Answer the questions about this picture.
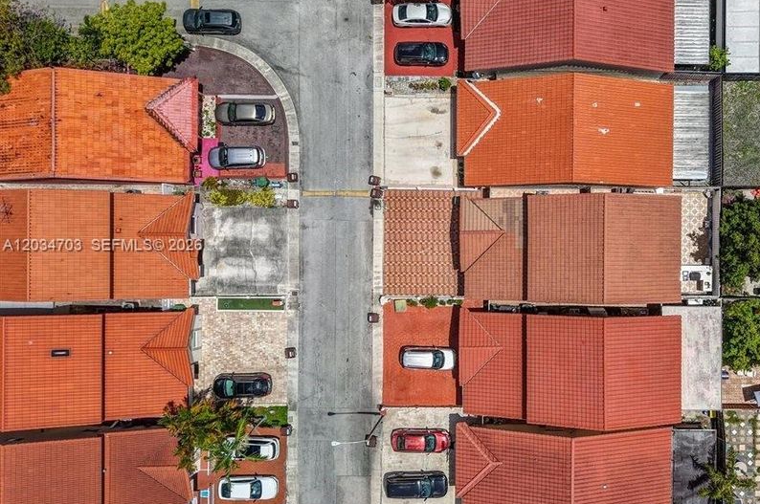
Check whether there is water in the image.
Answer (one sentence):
No, the picture contains no water.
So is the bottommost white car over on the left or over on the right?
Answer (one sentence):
The bottommost white car sits on the left side.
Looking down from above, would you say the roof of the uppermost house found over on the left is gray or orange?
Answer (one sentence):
In this view, the roof of the uppermost house found over on the left is orange.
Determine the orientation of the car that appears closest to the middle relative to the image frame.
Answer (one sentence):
The car that appears closest to the middle has been laid out from left to right relative to the frame.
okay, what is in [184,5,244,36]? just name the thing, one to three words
car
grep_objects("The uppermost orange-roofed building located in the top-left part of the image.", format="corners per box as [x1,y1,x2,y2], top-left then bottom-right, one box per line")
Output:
[0,66,205,184]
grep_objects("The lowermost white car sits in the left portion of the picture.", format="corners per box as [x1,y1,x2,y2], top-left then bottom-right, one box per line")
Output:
[218,473,280,503]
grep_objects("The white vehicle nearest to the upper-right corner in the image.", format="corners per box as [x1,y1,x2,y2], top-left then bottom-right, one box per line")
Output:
[393,0,452,28]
